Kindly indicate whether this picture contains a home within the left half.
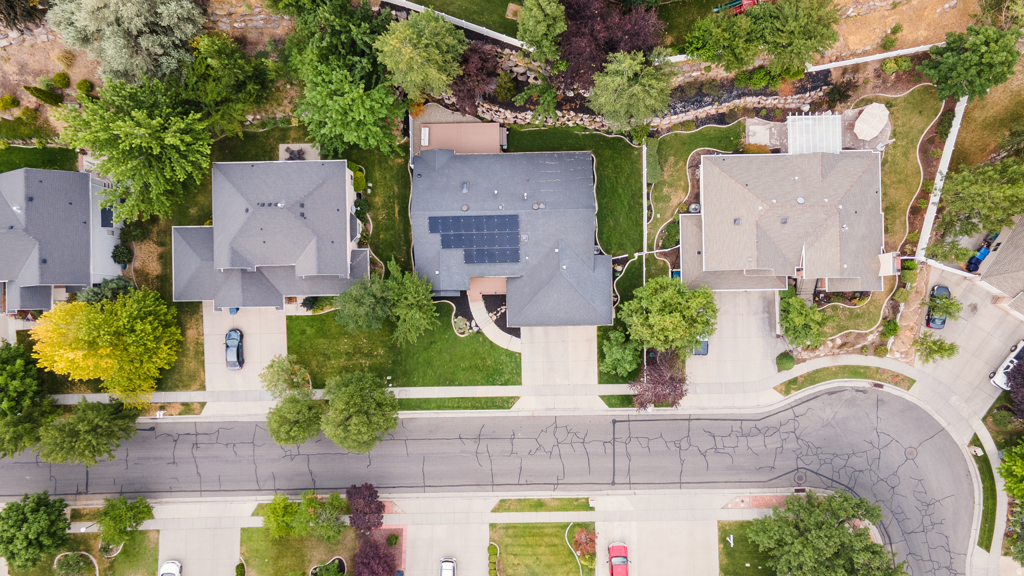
Yes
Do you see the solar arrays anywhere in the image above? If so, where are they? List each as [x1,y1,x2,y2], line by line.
[428,215,519,264]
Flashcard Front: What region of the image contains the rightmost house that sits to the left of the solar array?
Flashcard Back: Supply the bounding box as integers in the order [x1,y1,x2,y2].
[172,159,371,312]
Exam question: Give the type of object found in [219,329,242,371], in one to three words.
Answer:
car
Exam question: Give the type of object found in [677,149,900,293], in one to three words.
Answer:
house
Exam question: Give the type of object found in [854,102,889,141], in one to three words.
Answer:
umbrella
